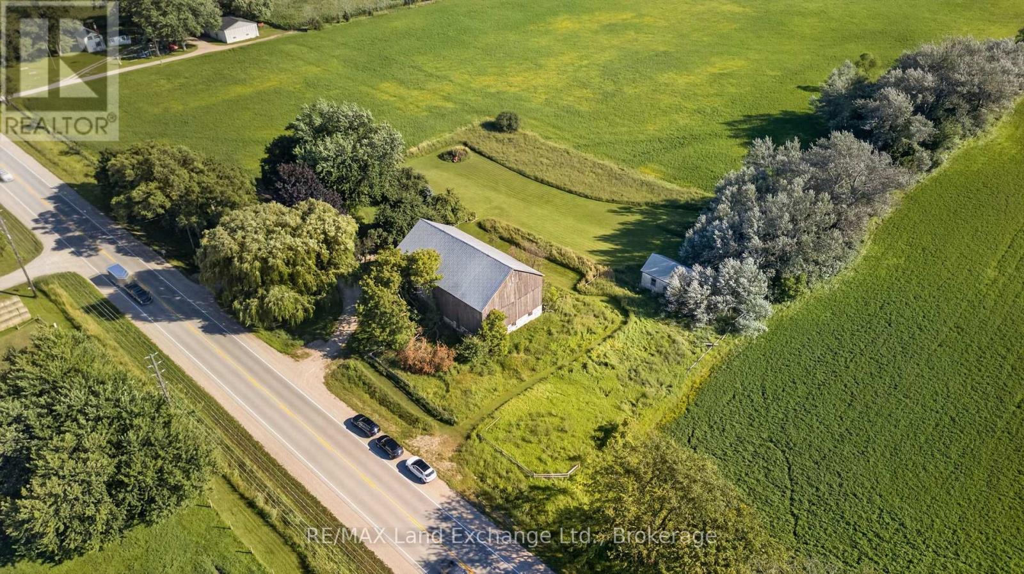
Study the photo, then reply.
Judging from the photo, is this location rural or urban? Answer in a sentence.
This place is rural.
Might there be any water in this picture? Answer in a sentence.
No, the scene doesn't show any water.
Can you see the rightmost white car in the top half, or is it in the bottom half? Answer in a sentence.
The rightmost white car is in the bottom half of the image.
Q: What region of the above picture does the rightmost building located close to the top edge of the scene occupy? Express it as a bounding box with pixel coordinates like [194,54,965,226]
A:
[206,14,259,43]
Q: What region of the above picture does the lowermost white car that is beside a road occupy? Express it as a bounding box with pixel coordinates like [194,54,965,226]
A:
[404,456,438,485]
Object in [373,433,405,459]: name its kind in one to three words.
car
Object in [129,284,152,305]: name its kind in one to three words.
car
